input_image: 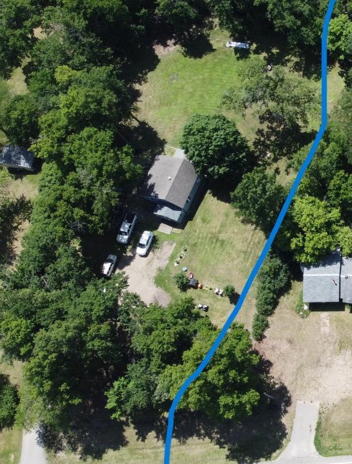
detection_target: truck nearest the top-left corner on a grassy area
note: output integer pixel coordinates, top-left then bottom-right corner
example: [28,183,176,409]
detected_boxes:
[118,213,139,244]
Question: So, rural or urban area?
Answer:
rural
